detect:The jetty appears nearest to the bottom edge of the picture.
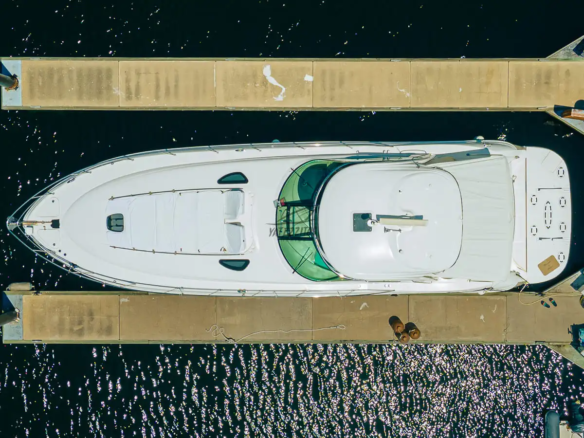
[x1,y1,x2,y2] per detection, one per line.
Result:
[3,267,584,368]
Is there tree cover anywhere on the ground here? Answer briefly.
No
